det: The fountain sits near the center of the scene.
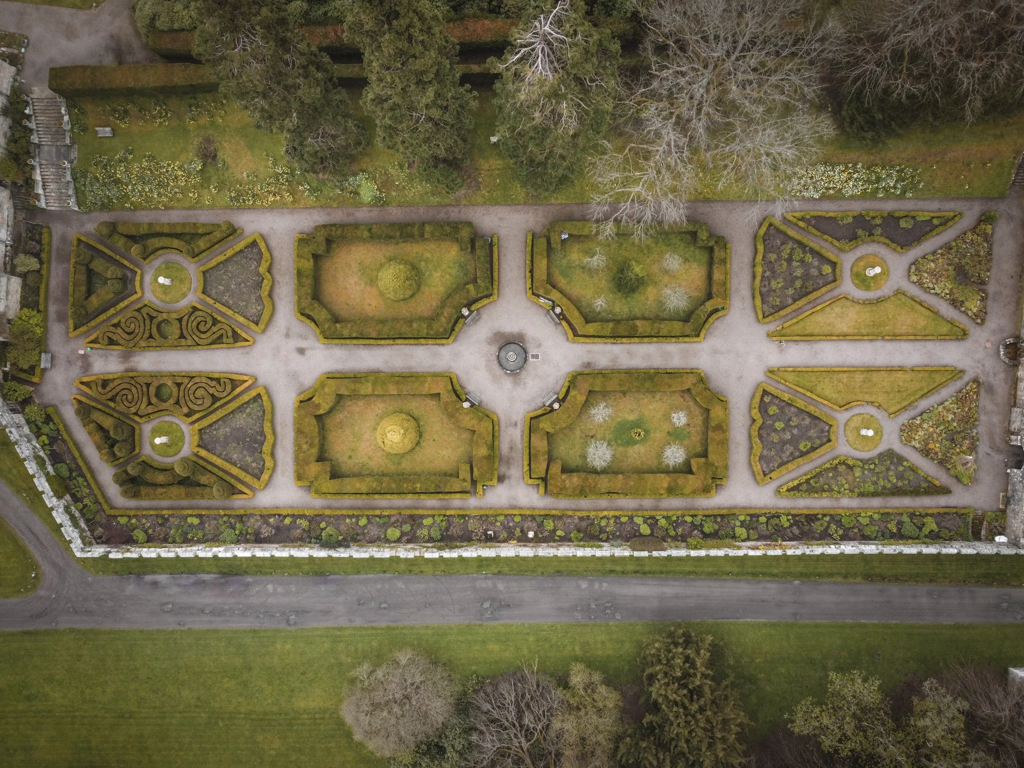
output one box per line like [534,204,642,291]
[496,340,529,373]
